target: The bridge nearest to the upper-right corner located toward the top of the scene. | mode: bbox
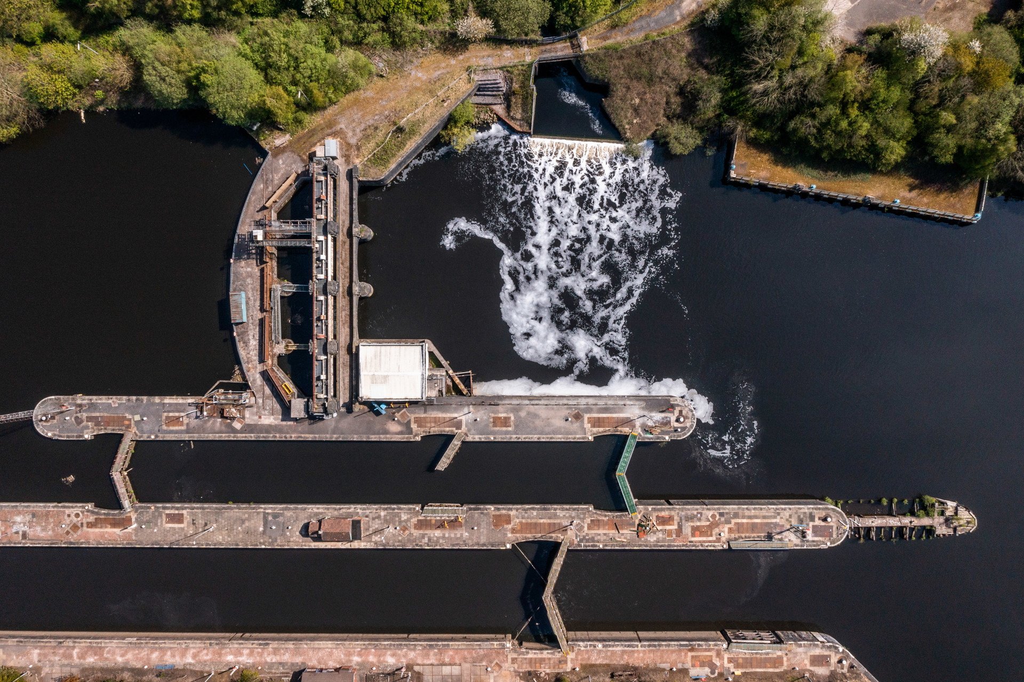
[525,35,588,63]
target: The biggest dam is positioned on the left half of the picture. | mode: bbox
[310,160,378,421]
